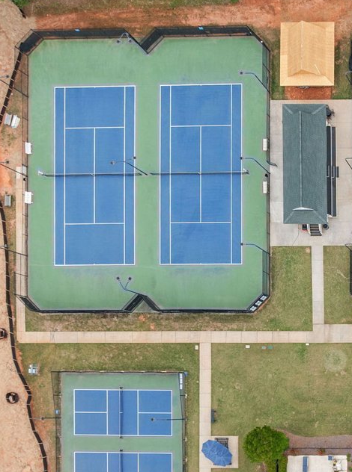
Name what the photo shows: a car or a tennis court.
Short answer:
tennis court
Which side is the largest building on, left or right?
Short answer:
right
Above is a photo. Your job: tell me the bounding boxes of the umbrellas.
[201,438,234,470]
